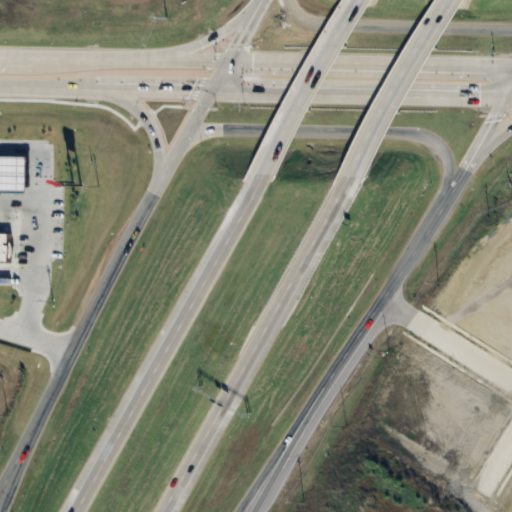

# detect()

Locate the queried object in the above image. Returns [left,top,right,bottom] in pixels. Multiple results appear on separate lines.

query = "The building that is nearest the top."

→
[0,156,30,192]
